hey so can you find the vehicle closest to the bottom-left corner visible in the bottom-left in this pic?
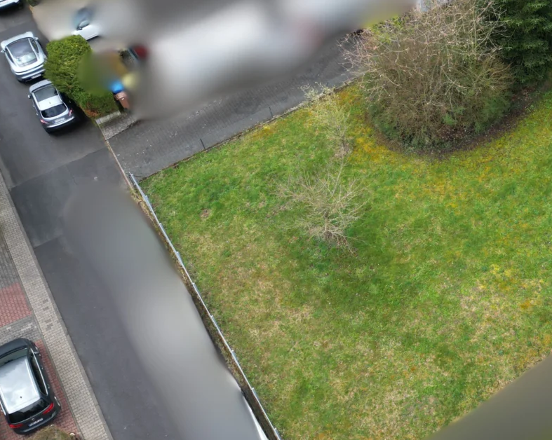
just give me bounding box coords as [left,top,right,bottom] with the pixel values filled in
[0,338,56,438]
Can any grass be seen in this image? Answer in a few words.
Yes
